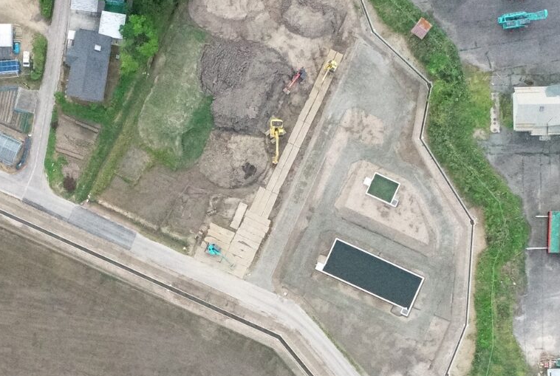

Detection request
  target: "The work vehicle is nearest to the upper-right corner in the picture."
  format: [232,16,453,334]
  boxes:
[318,57,339,84]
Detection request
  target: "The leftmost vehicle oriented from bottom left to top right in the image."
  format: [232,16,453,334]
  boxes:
[285,66,309,95]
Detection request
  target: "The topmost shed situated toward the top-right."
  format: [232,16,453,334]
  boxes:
[408,18,433,43]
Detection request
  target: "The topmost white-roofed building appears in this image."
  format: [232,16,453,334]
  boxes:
[69,0,98,16]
